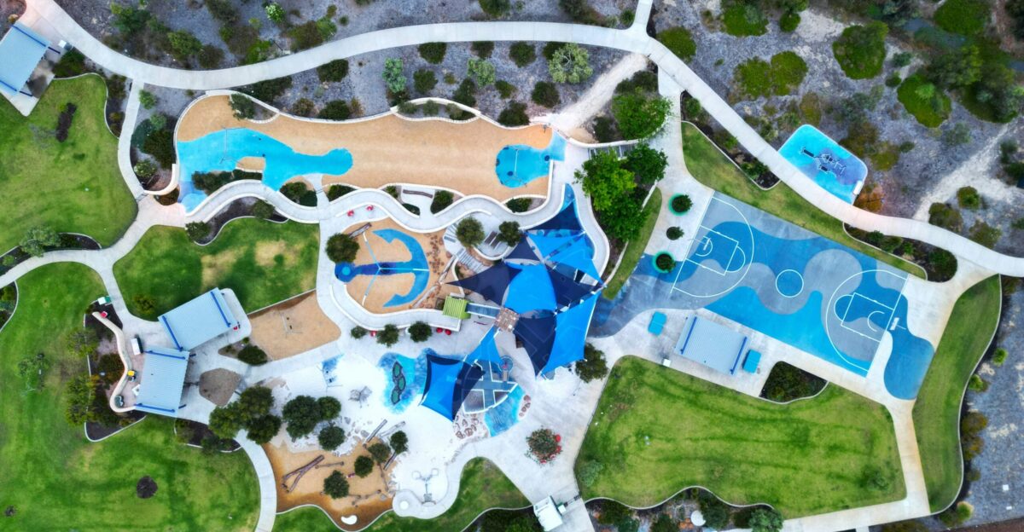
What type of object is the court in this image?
basketball court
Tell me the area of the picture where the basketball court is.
right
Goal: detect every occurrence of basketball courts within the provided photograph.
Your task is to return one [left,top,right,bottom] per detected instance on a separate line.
[588,191,934,400]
